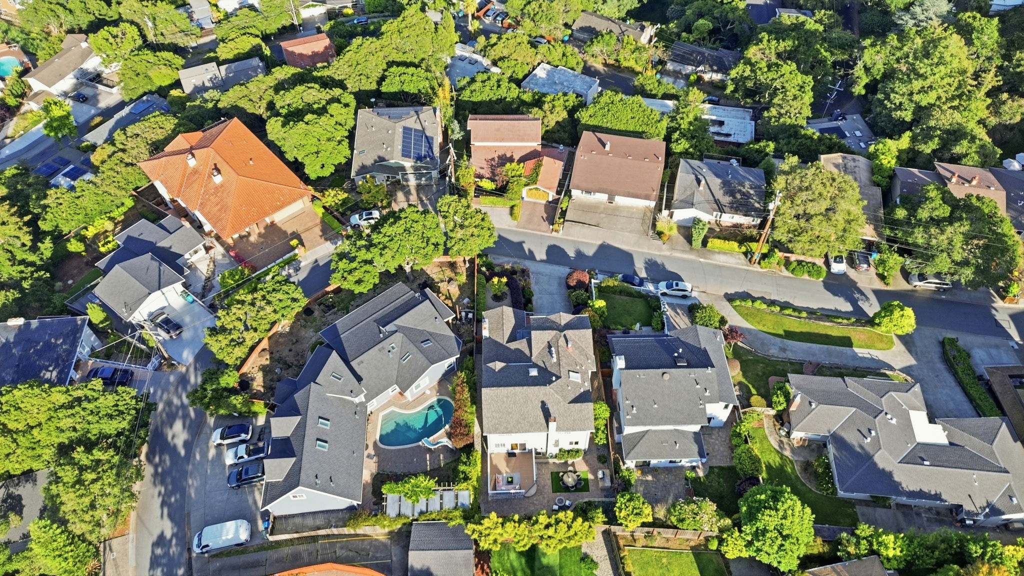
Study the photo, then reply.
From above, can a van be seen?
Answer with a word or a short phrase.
Yes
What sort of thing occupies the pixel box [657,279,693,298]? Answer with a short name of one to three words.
car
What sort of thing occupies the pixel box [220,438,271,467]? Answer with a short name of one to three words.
truck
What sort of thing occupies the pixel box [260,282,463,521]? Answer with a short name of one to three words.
house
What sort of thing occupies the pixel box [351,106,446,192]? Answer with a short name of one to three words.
house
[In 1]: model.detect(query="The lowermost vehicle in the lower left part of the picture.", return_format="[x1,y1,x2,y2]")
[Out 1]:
[190,511,255,554]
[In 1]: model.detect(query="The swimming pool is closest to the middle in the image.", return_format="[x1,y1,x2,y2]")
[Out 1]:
[376,396,453,448]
